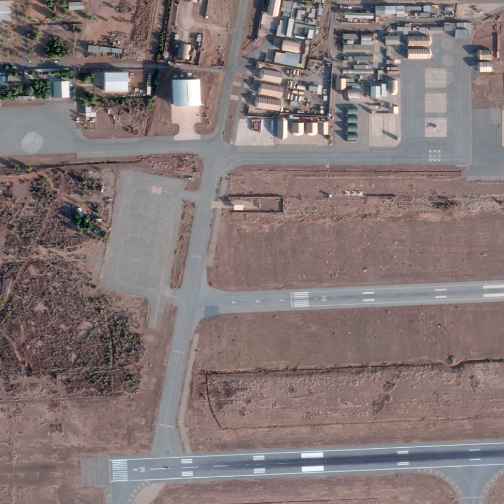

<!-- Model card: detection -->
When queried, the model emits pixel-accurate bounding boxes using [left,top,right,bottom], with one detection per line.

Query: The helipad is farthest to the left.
[22,131,43,153]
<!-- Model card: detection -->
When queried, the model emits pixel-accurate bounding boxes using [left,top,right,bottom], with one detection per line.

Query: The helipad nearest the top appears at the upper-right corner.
[425,67,446,87]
